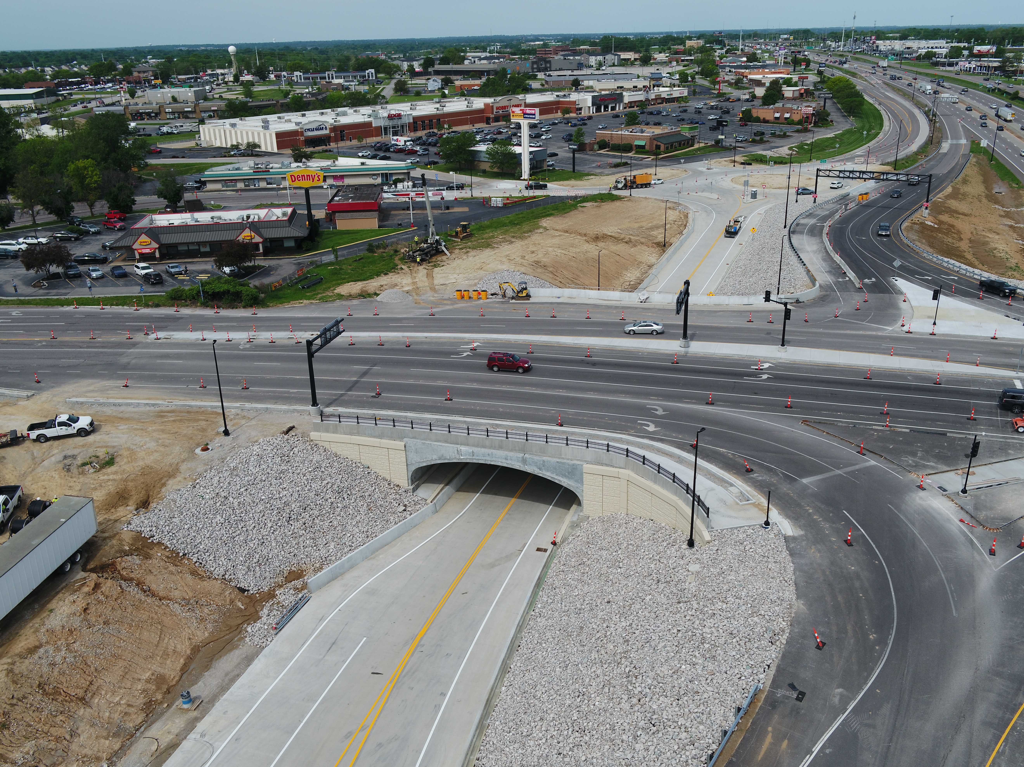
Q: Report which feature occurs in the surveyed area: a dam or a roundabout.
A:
roundabout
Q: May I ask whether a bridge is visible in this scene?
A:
Yes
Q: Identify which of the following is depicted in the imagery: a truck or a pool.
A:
truck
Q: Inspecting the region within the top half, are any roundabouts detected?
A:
Yes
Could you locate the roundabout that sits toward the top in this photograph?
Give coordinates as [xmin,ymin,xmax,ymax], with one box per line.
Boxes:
[387,157,865,210]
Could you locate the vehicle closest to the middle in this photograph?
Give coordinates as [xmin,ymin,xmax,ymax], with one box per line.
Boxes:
[485,350,533,373]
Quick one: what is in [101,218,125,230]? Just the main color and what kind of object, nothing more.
red vehicle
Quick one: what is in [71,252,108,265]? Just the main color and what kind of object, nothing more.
black vehicle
